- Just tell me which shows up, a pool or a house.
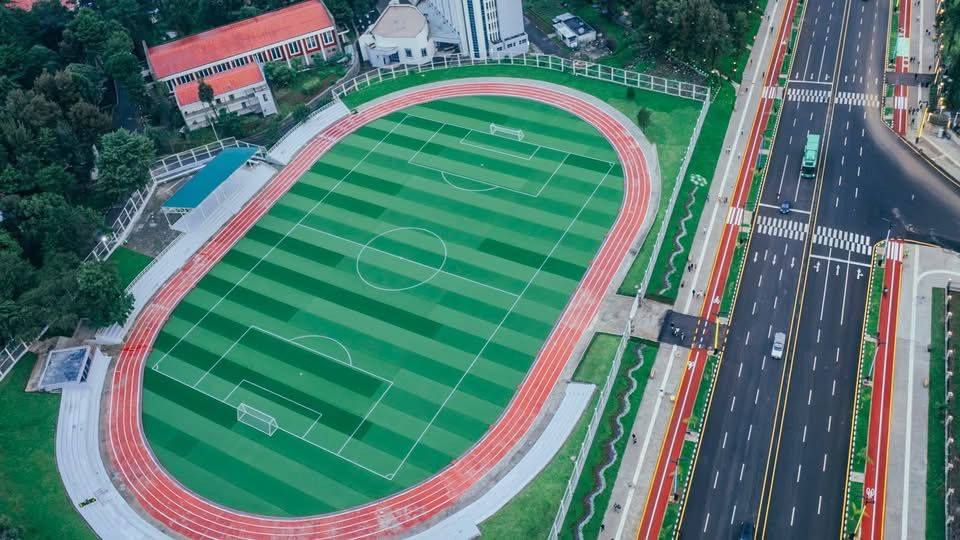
house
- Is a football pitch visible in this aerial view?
Yes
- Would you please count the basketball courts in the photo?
zero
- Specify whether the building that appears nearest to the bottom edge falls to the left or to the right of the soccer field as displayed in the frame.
left of it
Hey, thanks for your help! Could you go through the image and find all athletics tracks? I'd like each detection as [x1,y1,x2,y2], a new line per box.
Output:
[103,82,652,540]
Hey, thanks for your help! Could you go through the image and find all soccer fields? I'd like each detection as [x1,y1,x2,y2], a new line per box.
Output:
[142,97,622,515]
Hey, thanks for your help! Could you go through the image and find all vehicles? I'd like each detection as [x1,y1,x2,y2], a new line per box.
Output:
[799,134,819,179]
[781,199,791,213]
[772,329,788,357]
[737,522,753,540]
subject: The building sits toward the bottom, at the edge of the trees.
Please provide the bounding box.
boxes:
[38,346,92,392]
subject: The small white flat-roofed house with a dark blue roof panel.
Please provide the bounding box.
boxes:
[548,11,596,52]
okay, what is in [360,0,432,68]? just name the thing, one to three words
building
